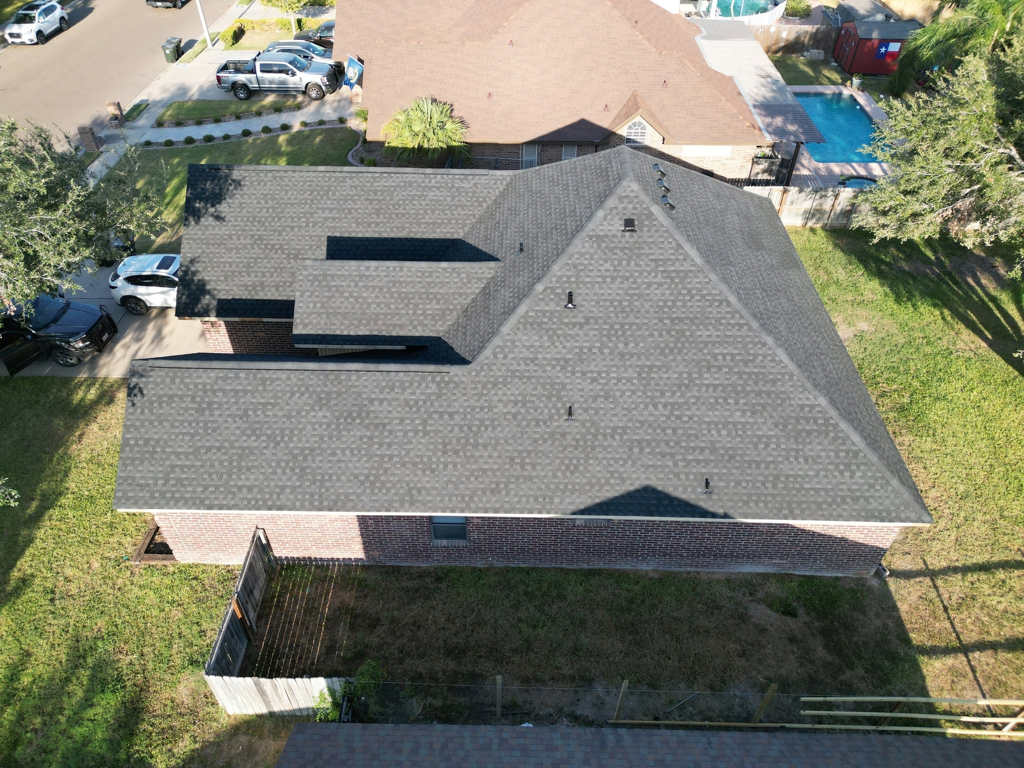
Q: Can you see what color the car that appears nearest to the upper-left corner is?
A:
white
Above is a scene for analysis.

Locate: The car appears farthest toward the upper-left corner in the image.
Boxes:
[1,1,68,45]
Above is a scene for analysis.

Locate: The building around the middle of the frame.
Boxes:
[112,146,939,578]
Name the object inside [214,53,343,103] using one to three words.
truck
